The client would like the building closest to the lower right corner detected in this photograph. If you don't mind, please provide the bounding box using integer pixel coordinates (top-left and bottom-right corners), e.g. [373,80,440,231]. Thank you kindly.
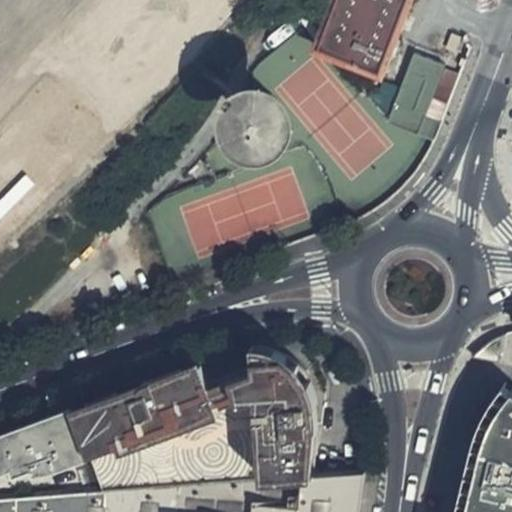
[450,384,512,512]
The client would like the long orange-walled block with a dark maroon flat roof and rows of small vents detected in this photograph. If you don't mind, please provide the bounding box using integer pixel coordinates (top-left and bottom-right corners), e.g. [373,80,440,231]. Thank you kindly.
[312,0,412,86]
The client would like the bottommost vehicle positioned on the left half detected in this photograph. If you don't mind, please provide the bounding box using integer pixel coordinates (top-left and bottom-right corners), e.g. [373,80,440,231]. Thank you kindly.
[68,347,92,362]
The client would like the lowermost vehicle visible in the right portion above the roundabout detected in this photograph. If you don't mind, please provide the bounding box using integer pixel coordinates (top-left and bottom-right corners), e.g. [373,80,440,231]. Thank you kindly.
[398,201,420,220]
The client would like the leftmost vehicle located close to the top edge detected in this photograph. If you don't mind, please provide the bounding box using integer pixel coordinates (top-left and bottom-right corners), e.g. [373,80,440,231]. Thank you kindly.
[264,24,296,51]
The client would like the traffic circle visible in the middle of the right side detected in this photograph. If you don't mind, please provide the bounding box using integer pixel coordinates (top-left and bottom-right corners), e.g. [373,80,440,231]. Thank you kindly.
[373,246,455,328]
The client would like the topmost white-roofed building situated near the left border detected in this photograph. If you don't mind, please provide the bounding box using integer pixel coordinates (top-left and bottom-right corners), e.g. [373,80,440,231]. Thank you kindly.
[0,175,37,222]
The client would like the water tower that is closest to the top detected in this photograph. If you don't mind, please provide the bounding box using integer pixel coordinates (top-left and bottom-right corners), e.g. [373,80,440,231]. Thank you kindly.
[214,90,293,168]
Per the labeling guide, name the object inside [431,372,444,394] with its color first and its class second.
white vehicle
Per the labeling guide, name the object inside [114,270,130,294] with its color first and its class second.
white vehicle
